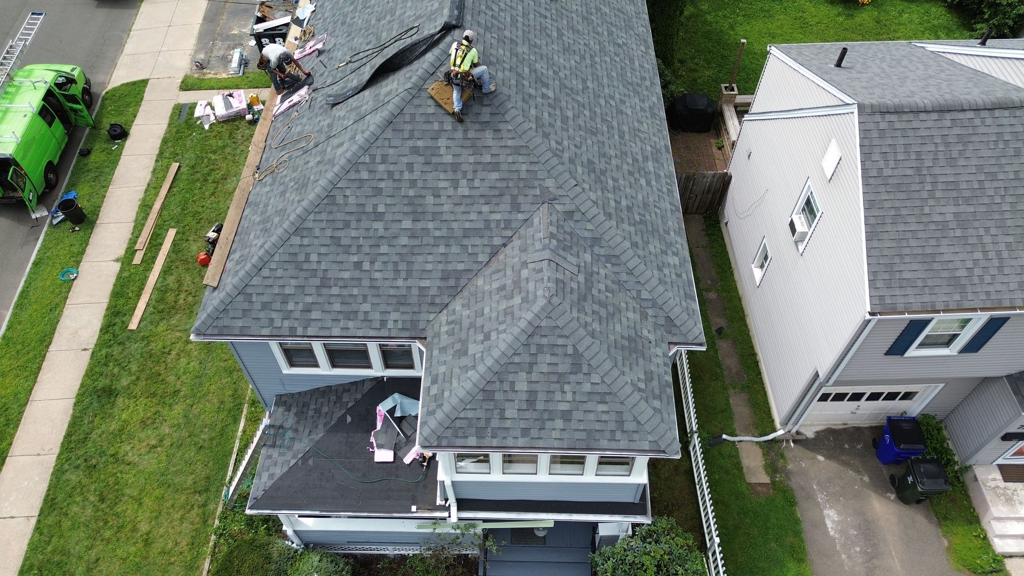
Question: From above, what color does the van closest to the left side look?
green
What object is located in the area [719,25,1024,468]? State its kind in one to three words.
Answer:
house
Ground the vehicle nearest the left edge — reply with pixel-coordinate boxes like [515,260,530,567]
[0,67,98,213]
